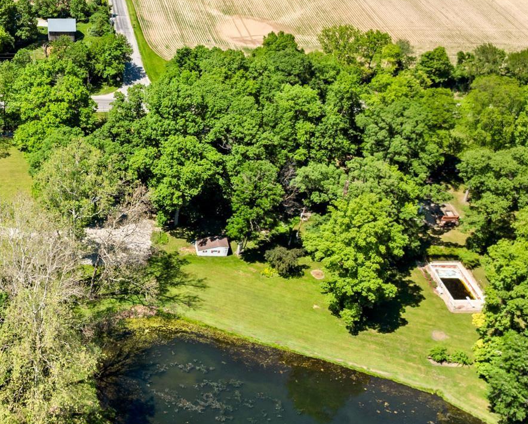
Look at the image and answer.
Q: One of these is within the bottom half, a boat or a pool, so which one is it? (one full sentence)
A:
What appears within the bottom half is a pool.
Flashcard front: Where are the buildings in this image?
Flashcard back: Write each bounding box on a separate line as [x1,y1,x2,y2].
[48,18,76,41]
[195,234,231,256]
